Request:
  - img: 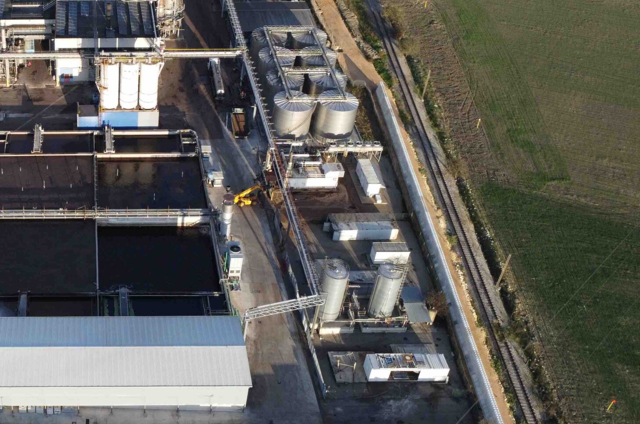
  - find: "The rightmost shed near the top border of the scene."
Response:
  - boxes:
[232,1,319,46]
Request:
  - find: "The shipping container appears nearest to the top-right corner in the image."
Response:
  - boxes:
[355,157,386,197]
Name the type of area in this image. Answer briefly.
industrial area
